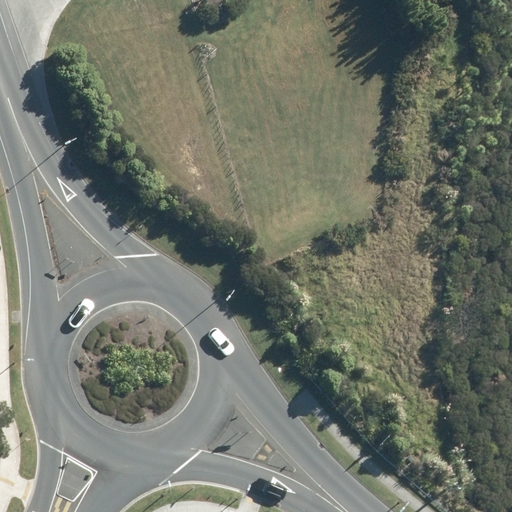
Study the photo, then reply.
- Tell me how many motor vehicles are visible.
3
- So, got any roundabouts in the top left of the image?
No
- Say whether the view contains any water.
No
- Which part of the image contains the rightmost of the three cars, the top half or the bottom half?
bottom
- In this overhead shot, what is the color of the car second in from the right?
white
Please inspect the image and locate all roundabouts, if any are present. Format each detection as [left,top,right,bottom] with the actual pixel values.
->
[28,261,240,473]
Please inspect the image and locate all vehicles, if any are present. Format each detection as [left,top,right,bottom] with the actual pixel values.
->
[69,298,94,328]
[208,327,234,355]
[251,477,286,500]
